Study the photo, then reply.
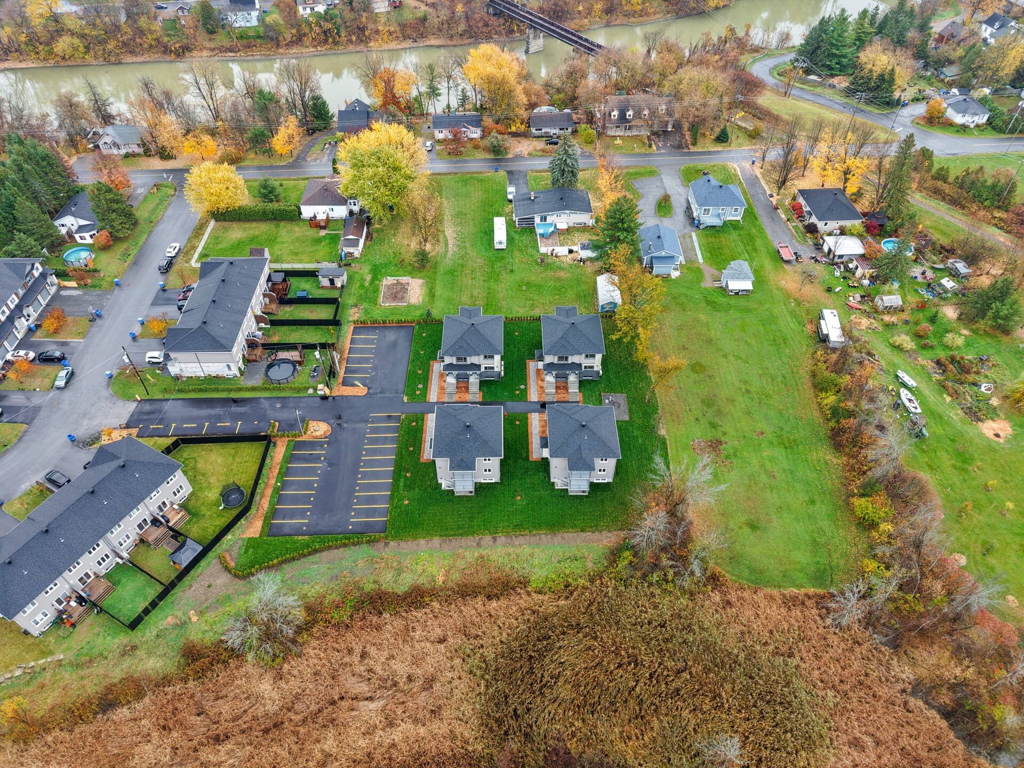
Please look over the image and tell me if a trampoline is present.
Yes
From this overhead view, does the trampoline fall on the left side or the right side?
left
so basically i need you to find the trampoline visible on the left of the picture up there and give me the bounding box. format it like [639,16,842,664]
[214,480,246,509]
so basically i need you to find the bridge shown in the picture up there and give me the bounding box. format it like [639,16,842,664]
[489,0,620,80]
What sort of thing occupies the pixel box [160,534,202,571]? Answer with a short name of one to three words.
gazebo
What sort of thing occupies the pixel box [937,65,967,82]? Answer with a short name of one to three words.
shed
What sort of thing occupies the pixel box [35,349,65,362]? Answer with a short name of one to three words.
vehicle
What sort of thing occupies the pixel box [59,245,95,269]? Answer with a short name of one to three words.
swimming pool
